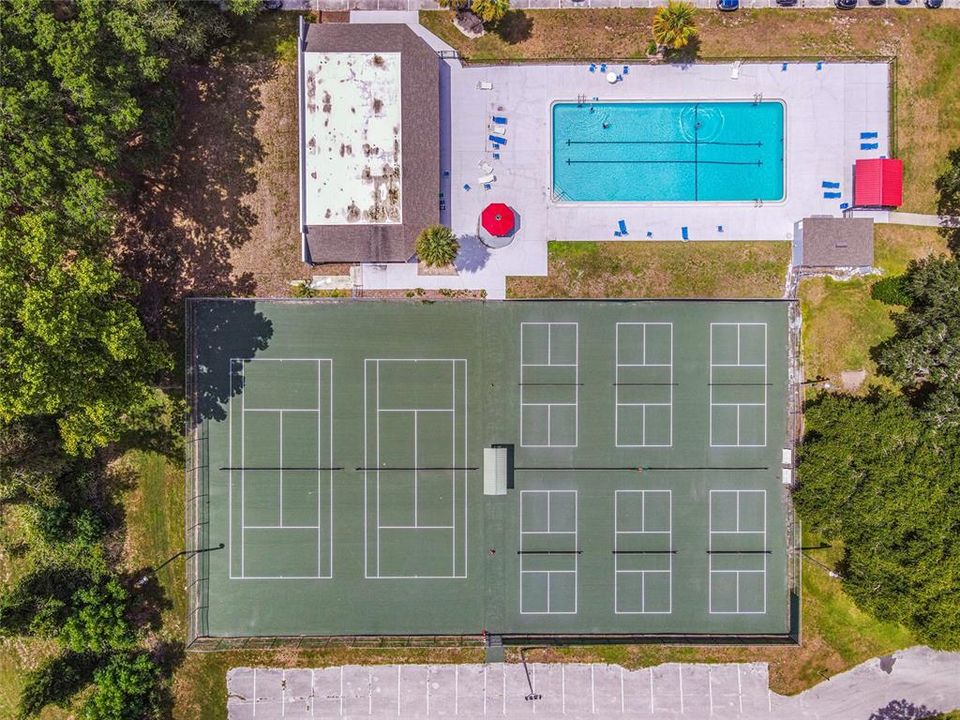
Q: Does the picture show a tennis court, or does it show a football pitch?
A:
tennis court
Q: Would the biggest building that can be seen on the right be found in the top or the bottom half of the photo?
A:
top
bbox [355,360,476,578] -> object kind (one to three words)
tennis court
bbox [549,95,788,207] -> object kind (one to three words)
swimming pool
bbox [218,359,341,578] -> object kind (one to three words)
tennis court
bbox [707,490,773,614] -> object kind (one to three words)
sports court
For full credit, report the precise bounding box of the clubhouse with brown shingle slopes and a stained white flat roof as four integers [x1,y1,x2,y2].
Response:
[300,15,441,269]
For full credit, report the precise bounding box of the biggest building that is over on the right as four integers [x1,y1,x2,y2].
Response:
[794,214,874,274]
